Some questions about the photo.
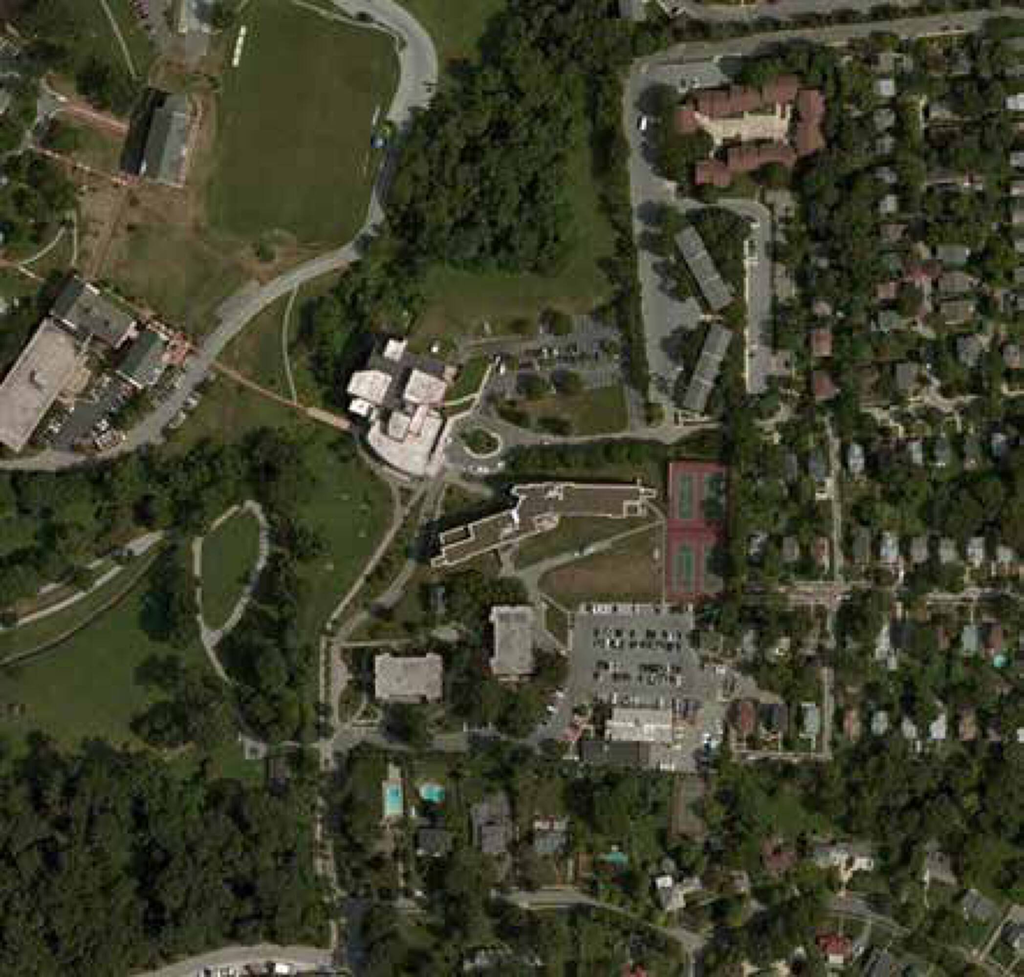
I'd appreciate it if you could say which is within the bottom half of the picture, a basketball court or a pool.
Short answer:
pool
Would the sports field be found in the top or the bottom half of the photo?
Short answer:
top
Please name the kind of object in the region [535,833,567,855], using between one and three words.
house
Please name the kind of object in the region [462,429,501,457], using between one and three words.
roundabout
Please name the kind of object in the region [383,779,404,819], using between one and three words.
swimming pool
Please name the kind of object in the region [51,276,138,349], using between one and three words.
building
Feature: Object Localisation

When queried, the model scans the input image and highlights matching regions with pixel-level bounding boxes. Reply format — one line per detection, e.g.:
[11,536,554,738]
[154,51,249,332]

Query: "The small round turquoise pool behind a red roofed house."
[991,652,1009,670]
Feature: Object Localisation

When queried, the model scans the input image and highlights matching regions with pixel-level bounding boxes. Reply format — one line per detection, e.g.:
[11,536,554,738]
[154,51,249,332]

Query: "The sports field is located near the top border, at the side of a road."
[212,13,397,260]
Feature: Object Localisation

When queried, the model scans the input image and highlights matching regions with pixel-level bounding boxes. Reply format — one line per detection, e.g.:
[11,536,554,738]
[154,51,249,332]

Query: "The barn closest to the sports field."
[140,94,187,188]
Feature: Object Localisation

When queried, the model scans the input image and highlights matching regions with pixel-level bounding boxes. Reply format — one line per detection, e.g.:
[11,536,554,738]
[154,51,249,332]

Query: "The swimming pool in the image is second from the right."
[596,851,630,866]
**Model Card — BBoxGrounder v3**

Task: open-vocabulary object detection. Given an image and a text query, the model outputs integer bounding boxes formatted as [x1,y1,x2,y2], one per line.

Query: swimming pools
[383,779,404,819]
[596,851,630,866]
[418,783,446,804]
[991,652,1009,670]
